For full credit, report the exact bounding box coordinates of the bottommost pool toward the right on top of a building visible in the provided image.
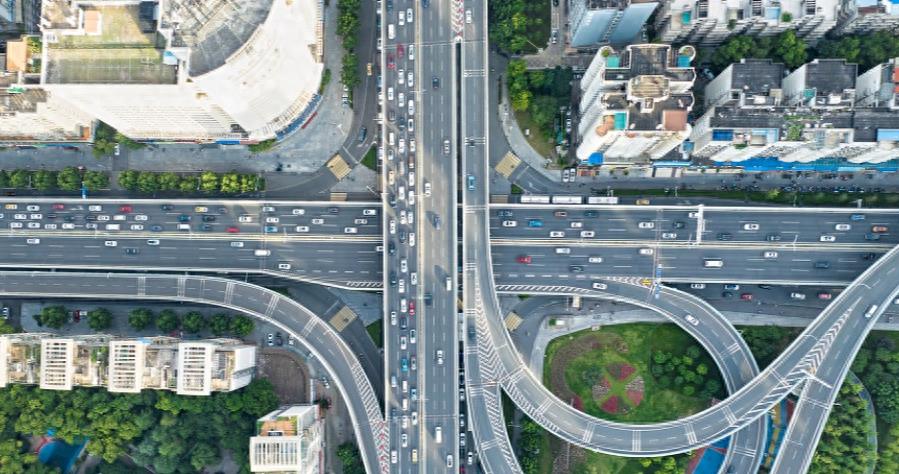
[614,112,626,130]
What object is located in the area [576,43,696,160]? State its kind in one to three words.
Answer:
building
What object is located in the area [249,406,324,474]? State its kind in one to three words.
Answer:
building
